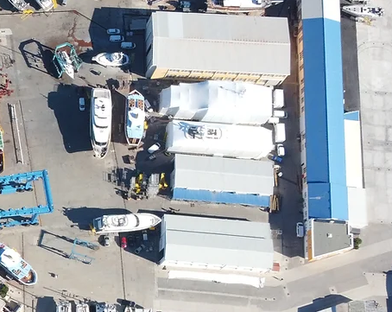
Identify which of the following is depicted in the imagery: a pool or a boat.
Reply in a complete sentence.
I can see a boat in this picture.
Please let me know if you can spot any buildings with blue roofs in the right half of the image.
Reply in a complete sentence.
Yes, a building with a blue roof is visible in the right half of the image.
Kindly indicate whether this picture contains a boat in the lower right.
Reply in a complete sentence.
No, there is no boat in the lower right.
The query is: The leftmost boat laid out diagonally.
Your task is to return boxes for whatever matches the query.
[0,241,38,286]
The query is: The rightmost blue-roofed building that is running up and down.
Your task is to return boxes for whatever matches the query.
[293,0,348,227]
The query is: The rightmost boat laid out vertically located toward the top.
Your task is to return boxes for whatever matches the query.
[128,87,145,148]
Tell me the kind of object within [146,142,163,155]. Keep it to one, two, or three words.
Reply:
vehicle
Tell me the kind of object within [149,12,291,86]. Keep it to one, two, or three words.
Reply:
building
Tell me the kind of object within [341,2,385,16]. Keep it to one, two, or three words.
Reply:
boat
